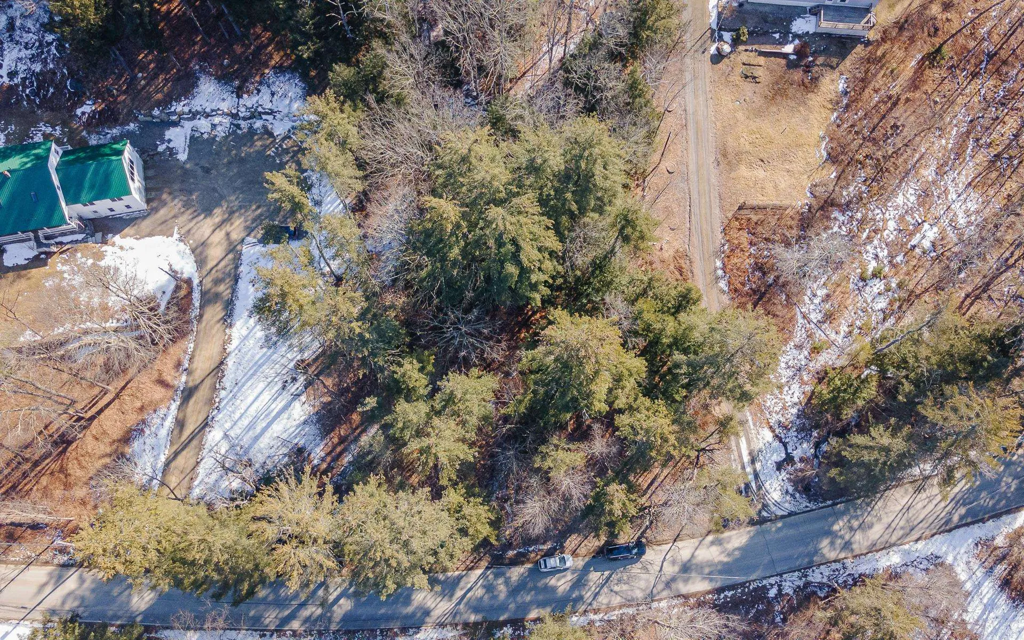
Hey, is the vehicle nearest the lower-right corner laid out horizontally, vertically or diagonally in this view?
horizontally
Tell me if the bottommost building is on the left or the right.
left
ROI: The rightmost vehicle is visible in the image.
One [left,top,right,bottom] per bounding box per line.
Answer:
[605,540,647,561]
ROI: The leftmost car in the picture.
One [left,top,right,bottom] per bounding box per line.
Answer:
[537,553,574,572]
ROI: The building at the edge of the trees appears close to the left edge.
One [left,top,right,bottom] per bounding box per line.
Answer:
[0,140,147,261]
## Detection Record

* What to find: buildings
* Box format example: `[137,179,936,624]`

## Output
[0,140,147,261]
[743,0,889,32]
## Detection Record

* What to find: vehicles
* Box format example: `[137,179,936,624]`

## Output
[537,553,574,572]
[605,540,647,561]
